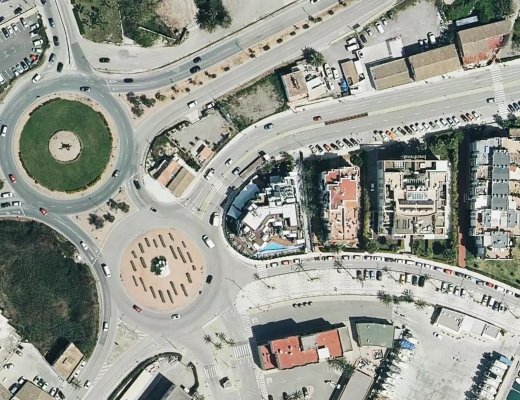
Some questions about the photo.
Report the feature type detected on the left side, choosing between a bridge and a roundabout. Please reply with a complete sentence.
The feature located on the left side is a roundabout.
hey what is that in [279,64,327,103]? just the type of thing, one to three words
house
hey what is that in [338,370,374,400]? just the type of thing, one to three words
shed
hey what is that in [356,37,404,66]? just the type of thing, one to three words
building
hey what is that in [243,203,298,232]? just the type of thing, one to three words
building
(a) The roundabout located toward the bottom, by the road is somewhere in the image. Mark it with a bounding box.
[97,205,227,335]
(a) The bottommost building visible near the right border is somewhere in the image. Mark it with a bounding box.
[436,309,501,339]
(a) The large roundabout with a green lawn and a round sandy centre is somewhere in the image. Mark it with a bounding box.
[0,76,136,216]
